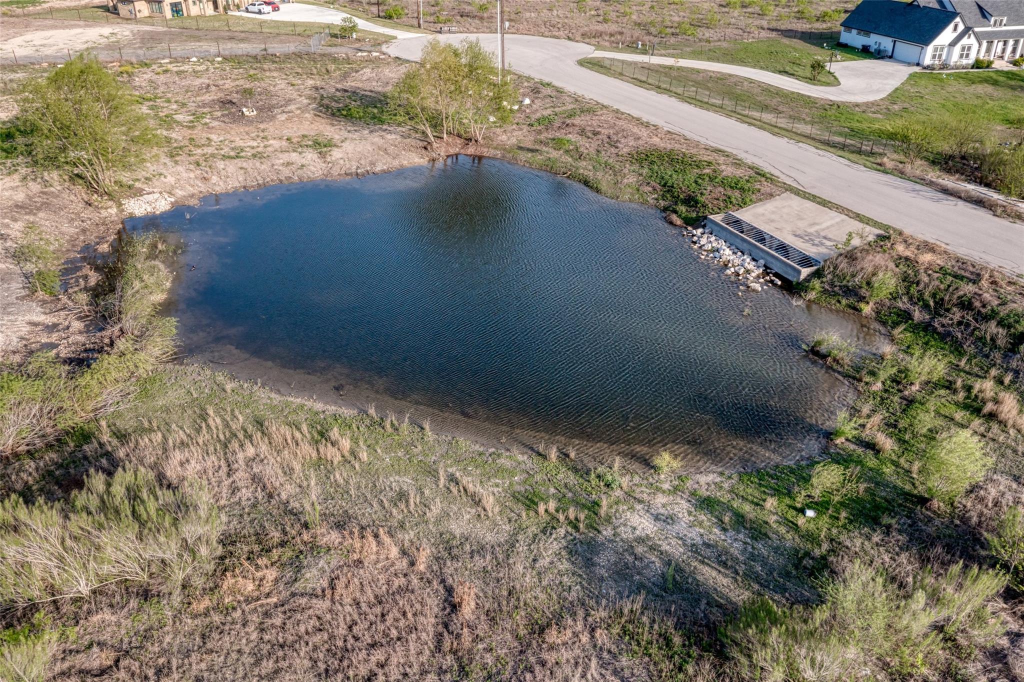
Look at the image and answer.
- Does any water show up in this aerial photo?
Yes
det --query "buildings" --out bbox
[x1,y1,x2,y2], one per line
[105,0,273,19]
[838,0,1024,66]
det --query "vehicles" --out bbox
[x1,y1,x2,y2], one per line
[242,1,273,14]
[264,1,284,12]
